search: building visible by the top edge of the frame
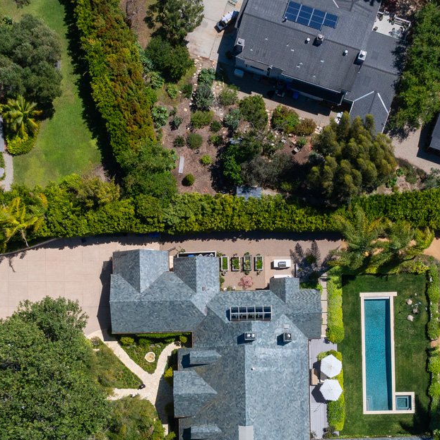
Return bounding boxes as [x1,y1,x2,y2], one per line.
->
[233,0,411,138]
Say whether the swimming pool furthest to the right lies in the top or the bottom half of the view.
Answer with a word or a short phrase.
bottom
